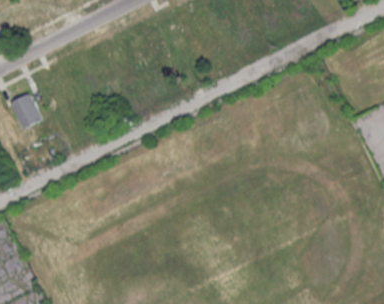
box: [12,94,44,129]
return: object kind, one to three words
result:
house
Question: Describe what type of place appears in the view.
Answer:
sports ground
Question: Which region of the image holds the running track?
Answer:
bottom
